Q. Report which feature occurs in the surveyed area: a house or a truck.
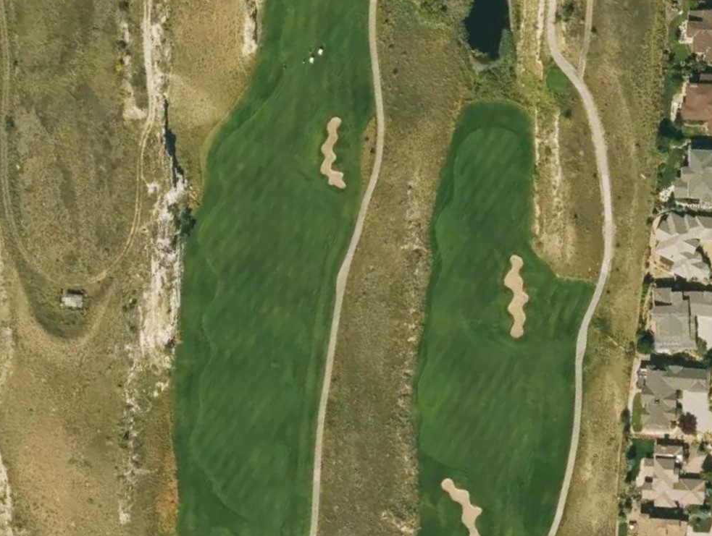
house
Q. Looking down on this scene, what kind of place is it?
golf course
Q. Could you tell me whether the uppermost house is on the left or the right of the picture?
right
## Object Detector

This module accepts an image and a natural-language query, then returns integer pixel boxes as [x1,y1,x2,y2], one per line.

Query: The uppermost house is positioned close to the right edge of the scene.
[687,8,712,58]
